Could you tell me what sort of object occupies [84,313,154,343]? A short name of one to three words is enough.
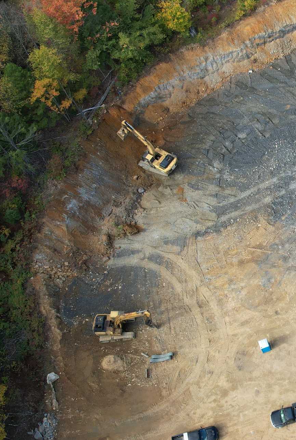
work vehicle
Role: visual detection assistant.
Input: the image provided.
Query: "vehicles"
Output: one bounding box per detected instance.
[170,426,219,440]
[84,313,154,343]
[124,122,182,176]
[269,402,296,428]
